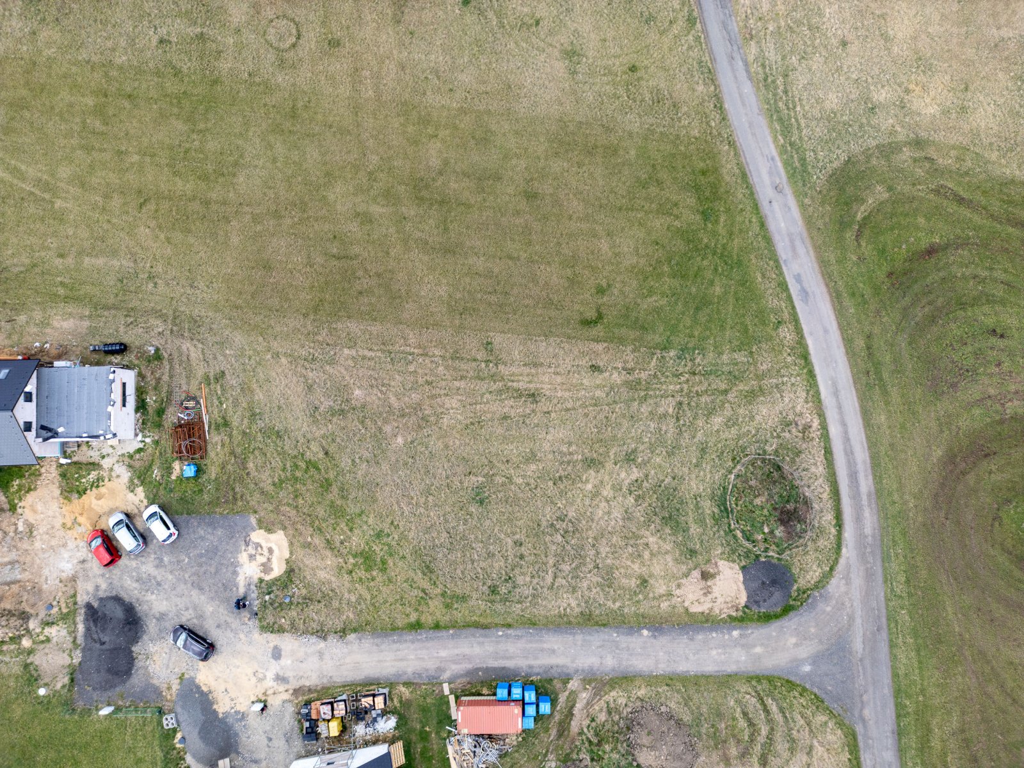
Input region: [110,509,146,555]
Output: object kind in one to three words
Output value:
car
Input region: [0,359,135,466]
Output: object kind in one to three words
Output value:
house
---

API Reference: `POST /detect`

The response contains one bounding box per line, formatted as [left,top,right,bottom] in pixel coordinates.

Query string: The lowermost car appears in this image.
[170,625,216,664]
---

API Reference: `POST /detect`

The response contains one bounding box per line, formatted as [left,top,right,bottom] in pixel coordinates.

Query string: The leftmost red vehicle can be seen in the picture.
[89,527,122,566]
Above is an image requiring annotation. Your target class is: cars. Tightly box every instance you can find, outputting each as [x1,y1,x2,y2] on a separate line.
[110,509,146,555]
[89,527,122,566]
[170,625,216,664]
[144,503,180,546]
